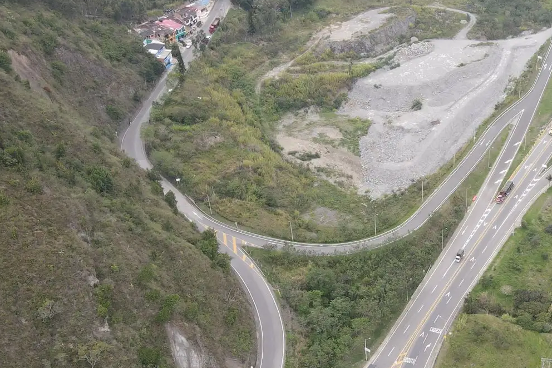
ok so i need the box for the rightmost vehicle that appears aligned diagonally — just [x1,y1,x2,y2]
[496,179,513,203]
